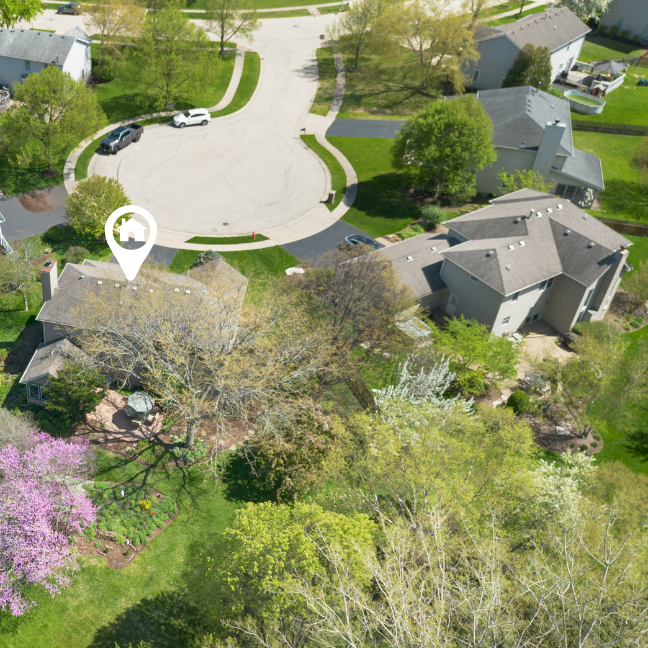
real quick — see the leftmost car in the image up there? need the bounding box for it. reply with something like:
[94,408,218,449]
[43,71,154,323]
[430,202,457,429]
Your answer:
[55,1,84,15]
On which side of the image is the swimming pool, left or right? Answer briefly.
right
